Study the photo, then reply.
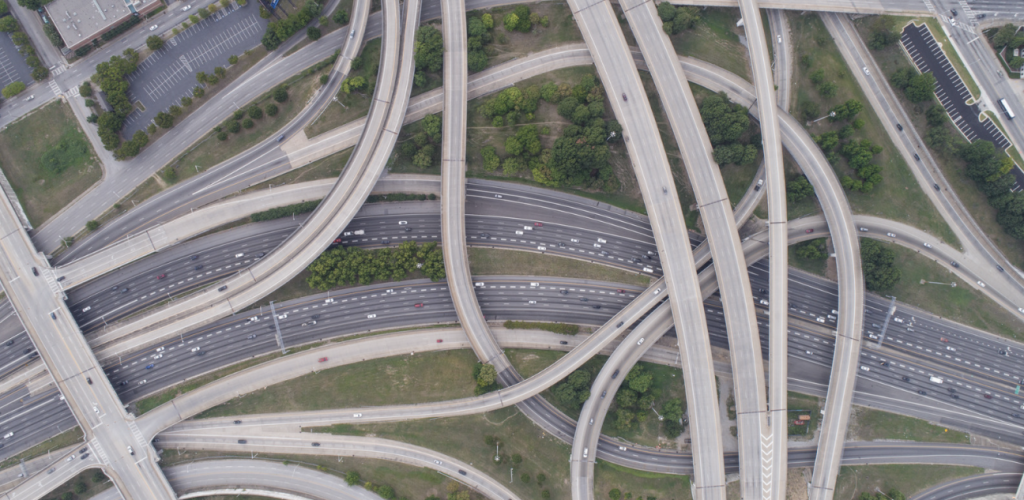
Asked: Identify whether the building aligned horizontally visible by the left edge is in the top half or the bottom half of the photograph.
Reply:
top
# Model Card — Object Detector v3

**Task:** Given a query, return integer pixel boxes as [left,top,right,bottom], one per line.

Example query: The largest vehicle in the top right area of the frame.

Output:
[998,98,1015,118]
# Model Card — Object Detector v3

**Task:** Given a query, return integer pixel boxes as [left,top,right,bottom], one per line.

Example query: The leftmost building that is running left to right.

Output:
[42,0,170,56]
